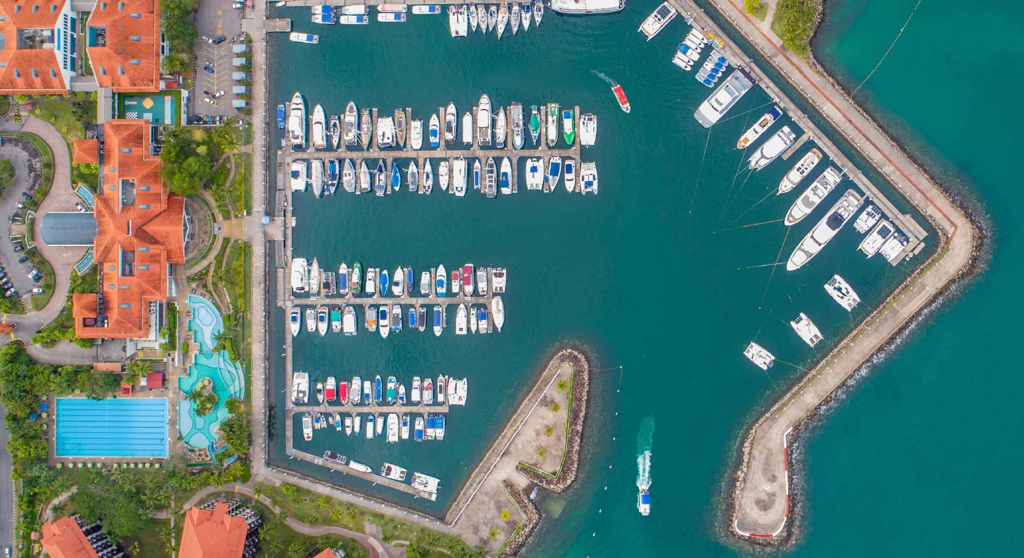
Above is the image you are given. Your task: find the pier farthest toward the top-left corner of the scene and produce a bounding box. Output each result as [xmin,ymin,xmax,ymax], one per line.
[267,18,292,32]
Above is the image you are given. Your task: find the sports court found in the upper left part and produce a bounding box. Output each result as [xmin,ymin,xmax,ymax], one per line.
[114,88,182,127]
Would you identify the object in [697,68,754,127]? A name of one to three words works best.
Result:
ship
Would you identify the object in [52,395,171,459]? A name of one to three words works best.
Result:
swimming pool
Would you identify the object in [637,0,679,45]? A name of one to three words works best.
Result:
boat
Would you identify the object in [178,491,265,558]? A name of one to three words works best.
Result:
building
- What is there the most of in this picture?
water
